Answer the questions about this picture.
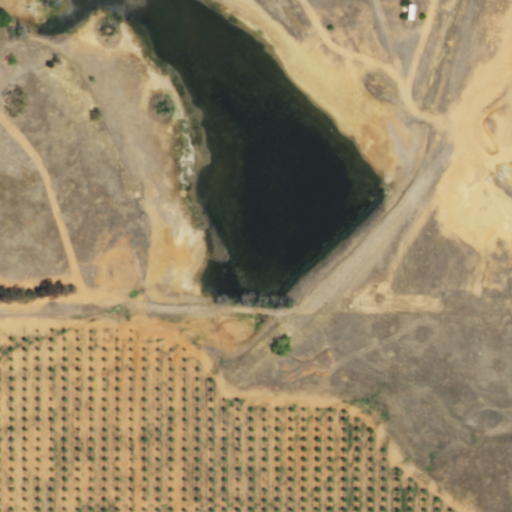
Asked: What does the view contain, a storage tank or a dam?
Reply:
dam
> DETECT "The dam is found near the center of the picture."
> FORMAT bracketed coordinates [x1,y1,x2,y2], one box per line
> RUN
[128,140,442,319]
